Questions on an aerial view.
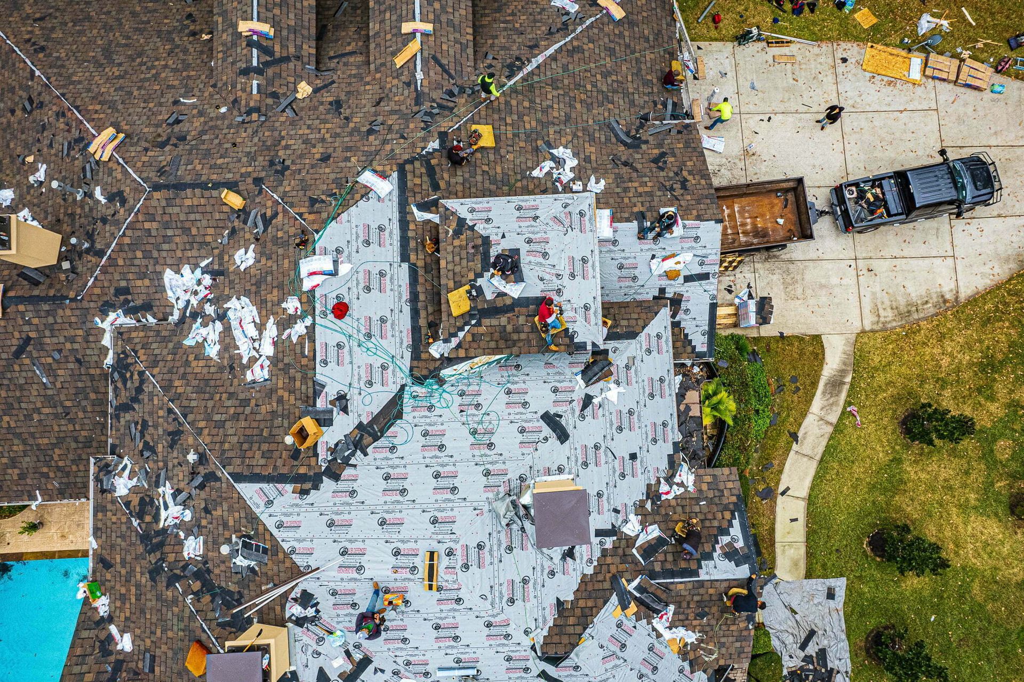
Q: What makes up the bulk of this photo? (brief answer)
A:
buildings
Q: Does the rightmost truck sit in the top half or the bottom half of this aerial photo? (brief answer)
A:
top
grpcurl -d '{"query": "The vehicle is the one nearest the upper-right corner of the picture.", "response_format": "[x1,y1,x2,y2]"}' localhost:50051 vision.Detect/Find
[830,140,1007,239]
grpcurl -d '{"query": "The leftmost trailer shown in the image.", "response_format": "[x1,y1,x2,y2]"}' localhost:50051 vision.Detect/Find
[712,175,833,258]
